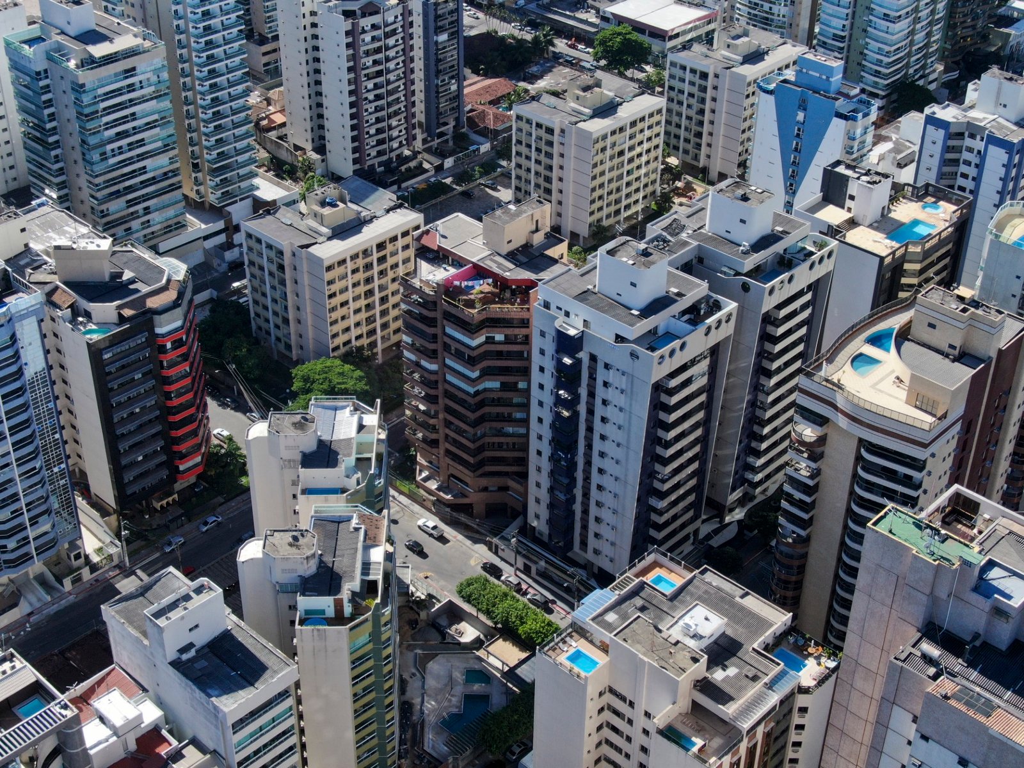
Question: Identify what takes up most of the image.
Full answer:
The bulk of the photo consists of buildings.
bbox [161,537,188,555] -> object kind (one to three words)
car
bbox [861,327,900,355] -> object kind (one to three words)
swimming pool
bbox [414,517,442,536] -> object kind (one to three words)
vehicle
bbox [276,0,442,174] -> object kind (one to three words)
building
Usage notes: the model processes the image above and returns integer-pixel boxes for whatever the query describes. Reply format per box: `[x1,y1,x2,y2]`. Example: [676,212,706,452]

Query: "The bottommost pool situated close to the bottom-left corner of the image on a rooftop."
[11,696,50,729]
